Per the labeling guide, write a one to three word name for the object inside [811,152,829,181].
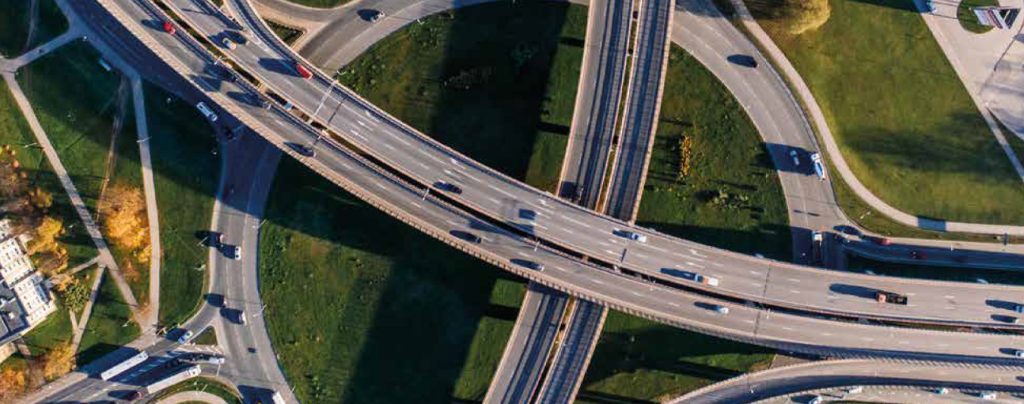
vehicle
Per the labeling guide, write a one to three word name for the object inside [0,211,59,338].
building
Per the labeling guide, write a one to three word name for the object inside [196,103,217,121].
vehicle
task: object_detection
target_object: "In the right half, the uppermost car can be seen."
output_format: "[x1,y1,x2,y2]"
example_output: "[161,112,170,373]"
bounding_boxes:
[748,55,761,69]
